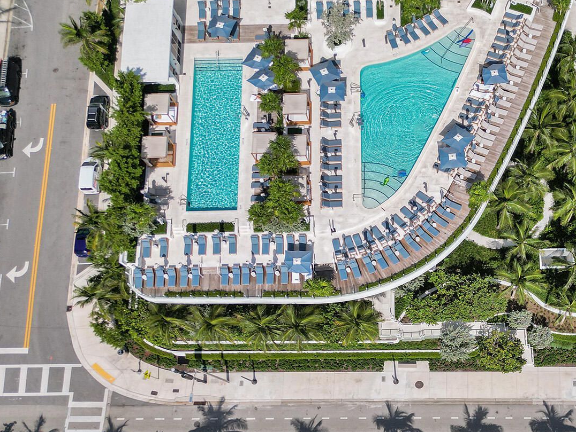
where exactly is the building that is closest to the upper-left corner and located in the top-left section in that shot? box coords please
[120,0,182,98]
